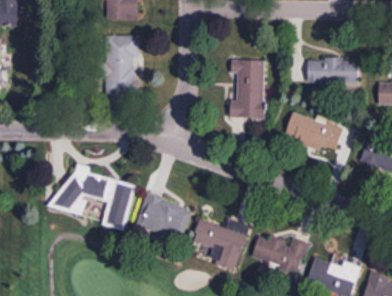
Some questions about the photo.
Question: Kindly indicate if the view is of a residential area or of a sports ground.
residential area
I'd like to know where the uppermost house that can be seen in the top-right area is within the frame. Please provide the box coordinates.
[307,58,358,83]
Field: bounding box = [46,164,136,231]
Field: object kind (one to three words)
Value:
house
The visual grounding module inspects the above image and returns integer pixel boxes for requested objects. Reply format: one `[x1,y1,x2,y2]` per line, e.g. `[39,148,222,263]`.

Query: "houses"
[104,37,140,94]
[286,114,343,154]
[364,270,392,296]
[254,235,308,277]
[136,193,192,237]
[194,217,250,276]
[230,60,266,118]
[307,58,358,83]
[310,260,362,296]
[360,146,392,175]
[378,82,392,106]
[46,164,136,231]
[107,0,138,20]
[0,0,17,26]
